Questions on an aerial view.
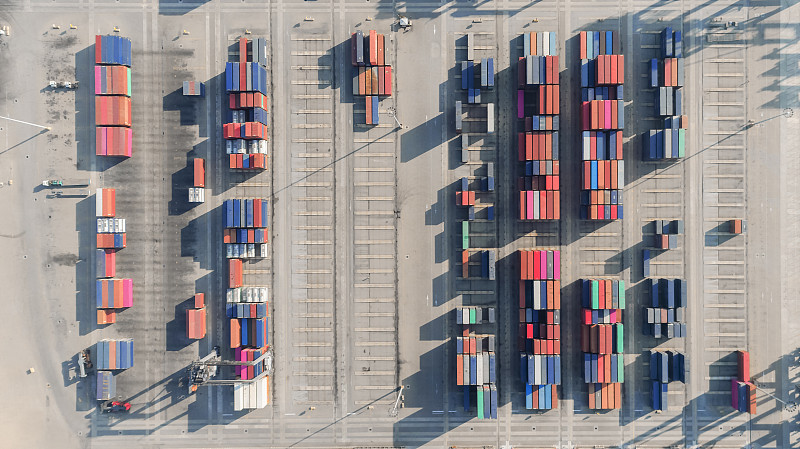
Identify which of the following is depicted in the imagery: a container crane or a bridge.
container crane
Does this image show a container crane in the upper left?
No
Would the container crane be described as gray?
Yes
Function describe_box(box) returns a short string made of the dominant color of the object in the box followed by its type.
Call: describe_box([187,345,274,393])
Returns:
gray container crane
